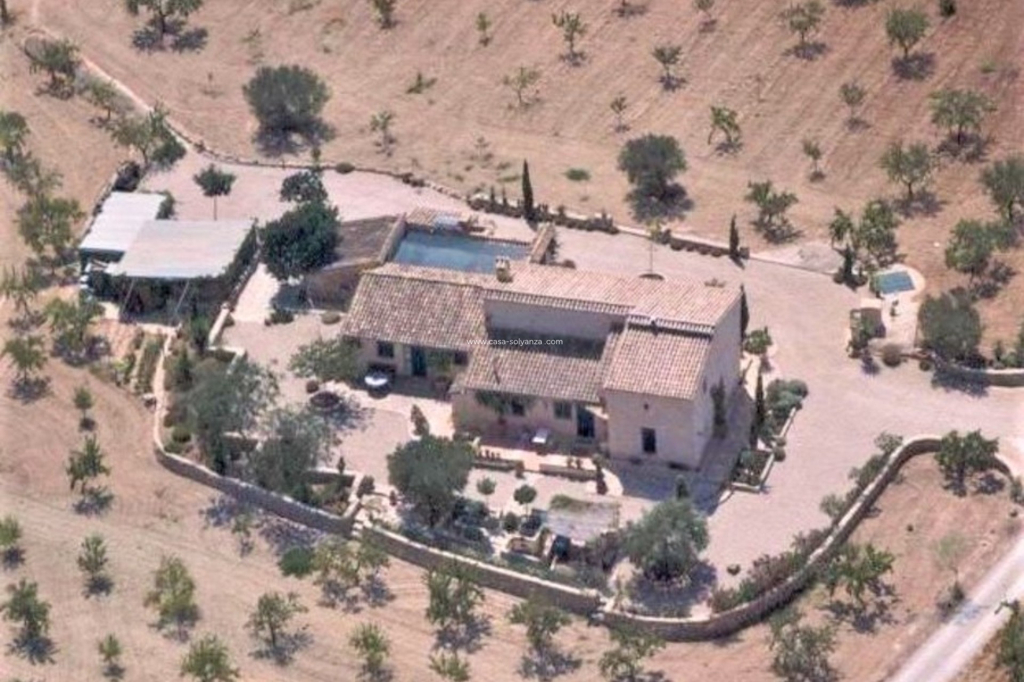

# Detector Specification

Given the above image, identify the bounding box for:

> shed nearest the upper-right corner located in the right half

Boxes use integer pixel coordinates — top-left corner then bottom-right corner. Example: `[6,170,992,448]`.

[853,304,885,341]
